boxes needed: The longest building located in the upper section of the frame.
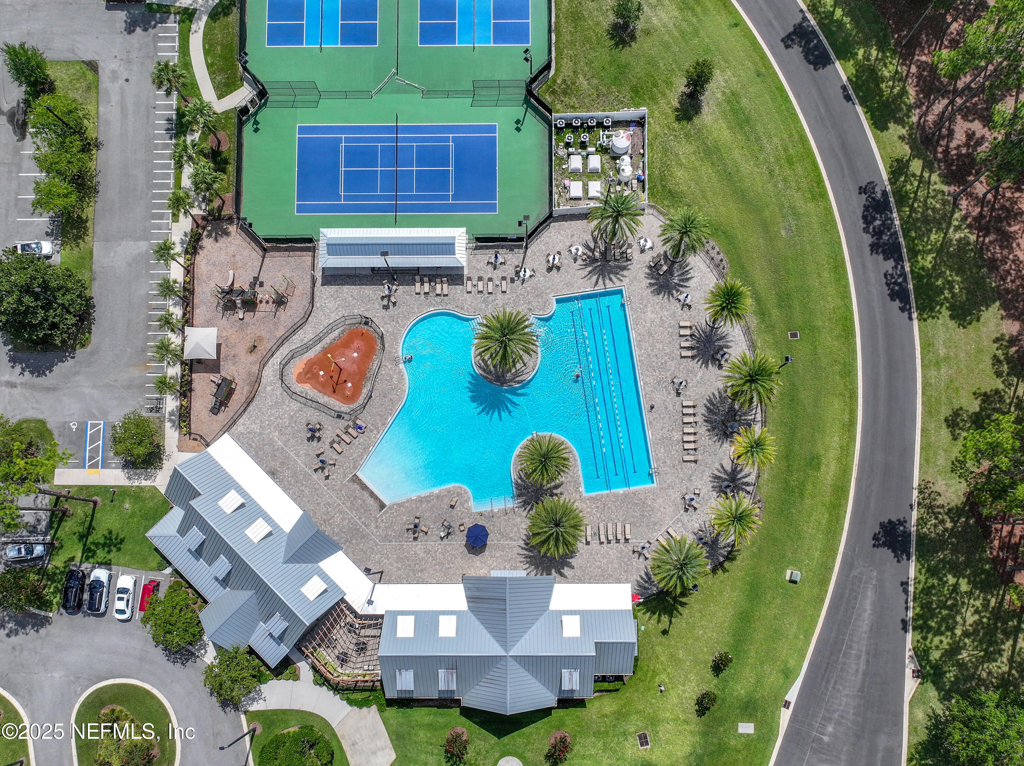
[319,227,466,269]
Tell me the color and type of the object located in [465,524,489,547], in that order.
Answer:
blue umbrella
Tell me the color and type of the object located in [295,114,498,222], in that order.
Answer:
blue tennis court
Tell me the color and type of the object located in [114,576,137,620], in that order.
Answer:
white car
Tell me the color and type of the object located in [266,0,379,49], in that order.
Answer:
blue sports court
